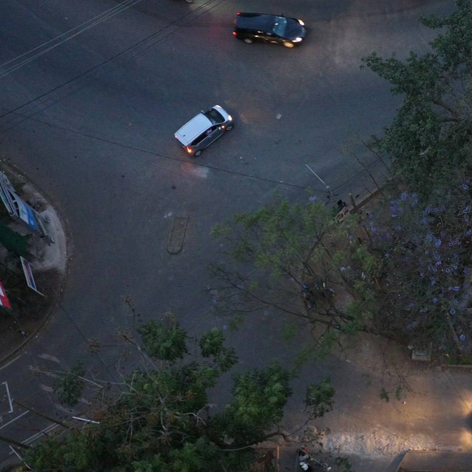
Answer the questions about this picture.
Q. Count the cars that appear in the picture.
2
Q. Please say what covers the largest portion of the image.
paved ground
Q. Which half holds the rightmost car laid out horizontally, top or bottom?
top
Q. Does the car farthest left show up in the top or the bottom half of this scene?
top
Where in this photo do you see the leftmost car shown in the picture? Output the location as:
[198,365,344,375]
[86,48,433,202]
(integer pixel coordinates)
[169,106,237,161]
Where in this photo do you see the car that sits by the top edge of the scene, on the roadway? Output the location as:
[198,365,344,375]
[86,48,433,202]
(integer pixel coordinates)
[227,10,308,52]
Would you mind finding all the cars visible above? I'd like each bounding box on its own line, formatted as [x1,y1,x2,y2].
[169,106,237,161]
[227,10,308,52]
